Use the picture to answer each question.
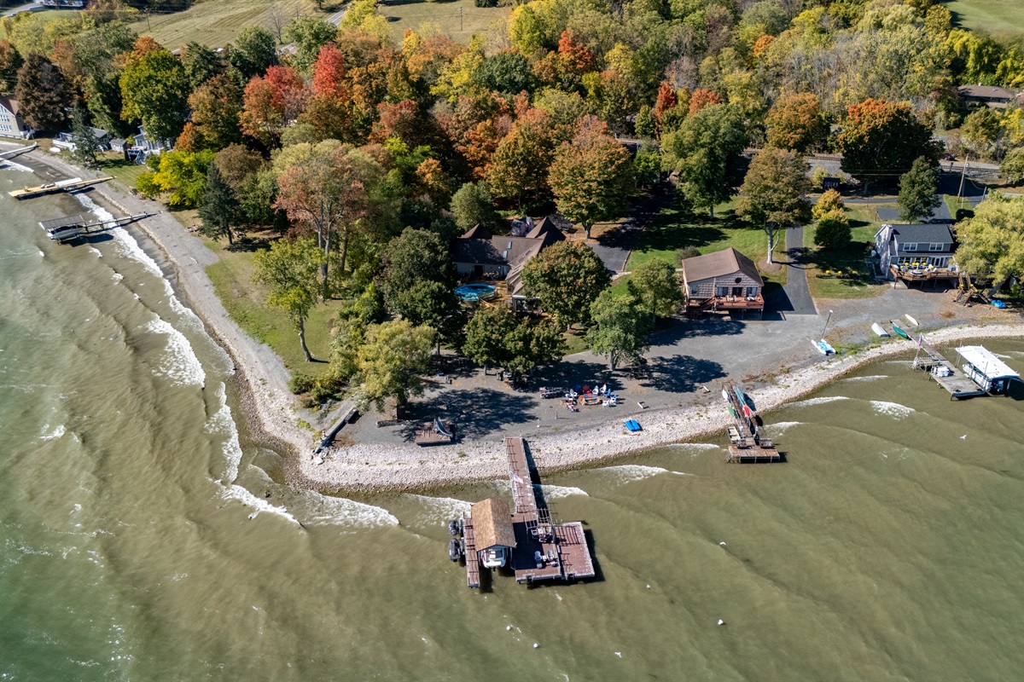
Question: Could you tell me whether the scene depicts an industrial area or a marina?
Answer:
marina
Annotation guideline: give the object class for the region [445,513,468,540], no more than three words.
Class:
boat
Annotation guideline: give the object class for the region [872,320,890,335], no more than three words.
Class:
boat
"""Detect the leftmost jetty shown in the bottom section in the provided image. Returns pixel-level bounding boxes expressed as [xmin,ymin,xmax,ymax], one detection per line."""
[463,431,595,594]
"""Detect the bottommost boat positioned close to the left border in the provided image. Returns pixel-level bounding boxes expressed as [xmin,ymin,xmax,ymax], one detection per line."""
[45,224,86,237]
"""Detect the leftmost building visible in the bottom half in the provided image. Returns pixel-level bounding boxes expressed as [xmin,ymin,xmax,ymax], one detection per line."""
[471,499,517,576]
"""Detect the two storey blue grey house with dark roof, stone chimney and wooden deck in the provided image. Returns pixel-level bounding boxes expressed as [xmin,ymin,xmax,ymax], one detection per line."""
[866,213,995,304]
